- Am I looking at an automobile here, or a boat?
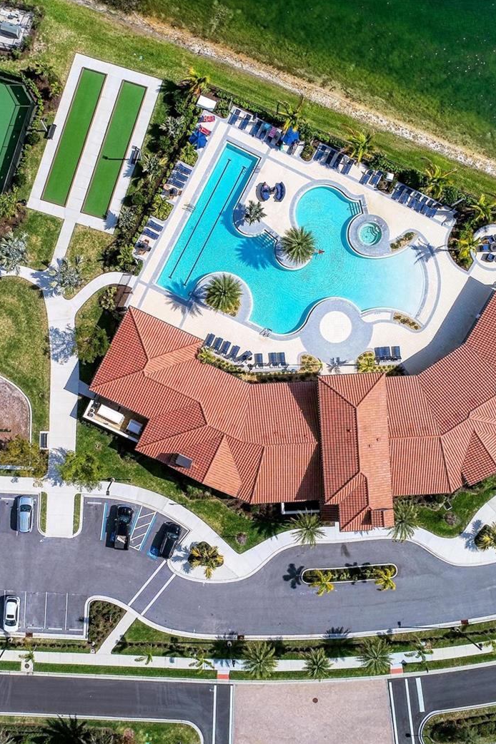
automobile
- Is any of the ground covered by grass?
Yes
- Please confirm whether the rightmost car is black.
Yes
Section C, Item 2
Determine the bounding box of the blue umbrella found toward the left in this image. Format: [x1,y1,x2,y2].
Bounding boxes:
[189,132,208,151]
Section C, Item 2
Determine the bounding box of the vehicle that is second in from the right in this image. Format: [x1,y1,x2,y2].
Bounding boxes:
[113,504,132,551]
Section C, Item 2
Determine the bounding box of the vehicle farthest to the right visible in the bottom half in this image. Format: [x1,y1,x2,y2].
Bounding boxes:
[156,522,182,560]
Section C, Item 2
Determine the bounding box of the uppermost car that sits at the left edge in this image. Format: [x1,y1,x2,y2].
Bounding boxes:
[16,495,34,533]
